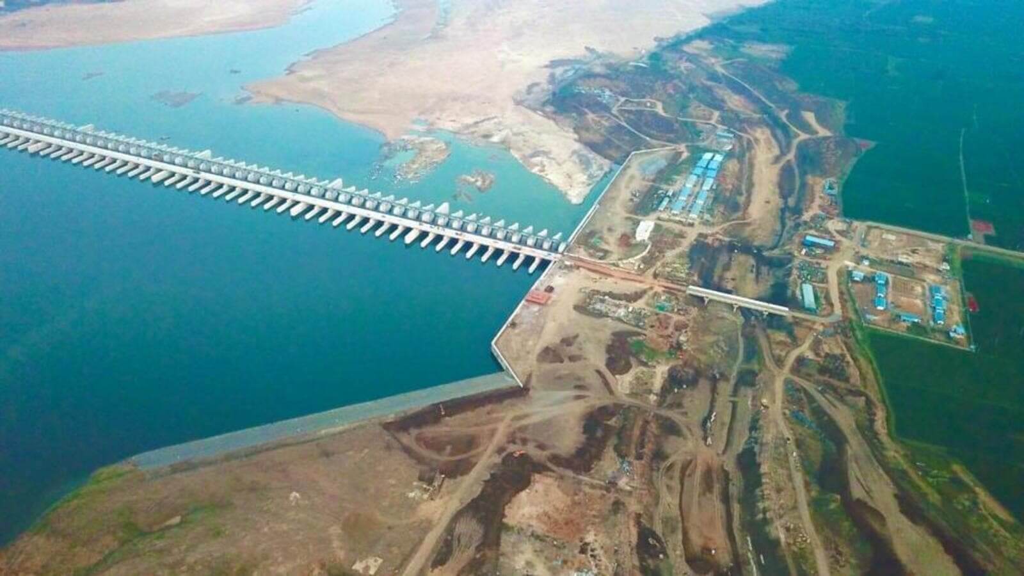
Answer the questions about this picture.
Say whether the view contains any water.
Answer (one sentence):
Yes, water can be seen from above here.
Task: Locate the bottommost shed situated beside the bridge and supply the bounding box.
[798,284,820,313]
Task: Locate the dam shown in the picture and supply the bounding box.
[0,109,572,275]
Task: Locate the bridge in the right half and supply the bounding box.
[687,287,790,318]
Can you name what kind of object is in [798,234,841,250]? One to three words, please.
shed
